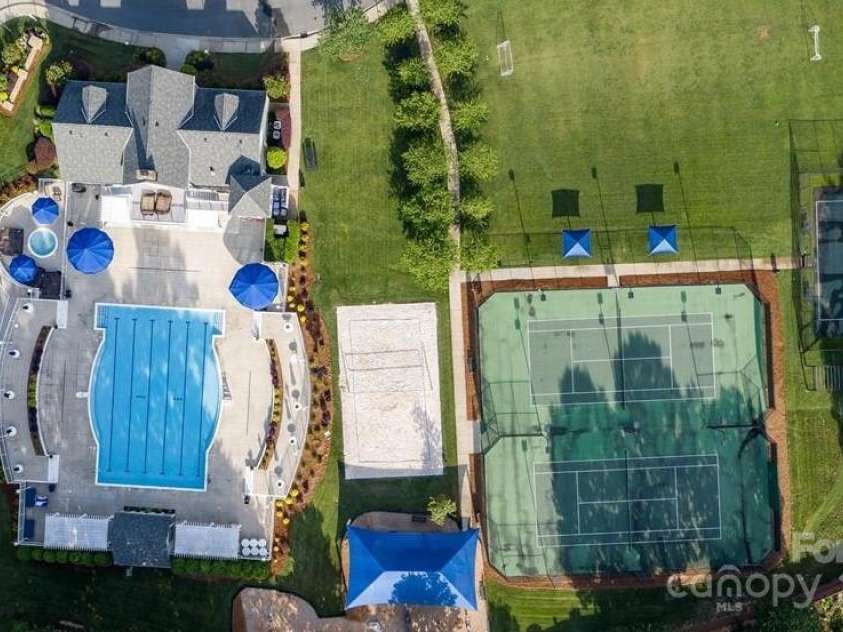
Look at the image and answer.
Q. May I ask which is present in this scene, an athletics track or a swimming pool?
swimming pool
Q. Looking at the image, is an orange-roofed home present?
No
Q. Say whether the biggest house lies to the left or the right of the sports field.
to the left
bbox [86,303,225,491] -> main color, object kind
blue swimming pool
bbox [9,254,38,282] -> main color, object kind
blue umbrella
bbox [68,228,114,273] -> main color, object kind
blue umbrella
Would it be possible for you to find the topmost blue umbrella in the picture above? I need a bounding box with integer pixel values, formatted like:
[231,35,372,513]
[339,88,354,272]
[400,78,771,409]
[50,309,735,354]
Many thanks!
[31,197,59,224]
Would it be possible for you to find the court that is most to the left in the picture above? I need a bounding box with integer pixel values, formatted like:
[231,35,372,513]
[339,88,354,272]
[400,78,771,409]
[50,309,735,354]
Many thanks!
[337,302,443,479]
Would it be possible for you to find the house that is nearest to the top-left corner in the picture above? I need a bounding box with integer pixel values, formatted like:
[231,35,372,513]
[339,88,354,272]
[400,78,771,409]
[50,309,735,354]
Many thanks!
[49,65,276,218]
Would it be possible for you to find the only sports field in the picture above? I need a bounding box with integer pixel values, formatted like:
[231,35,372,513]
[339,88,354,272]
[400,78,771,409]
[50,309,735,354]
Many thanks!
[431,0,843,268]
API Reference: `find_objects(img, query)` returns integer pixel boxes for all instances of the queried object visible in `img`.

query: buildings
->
[49,65,276,218]
[100,515,170,573]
